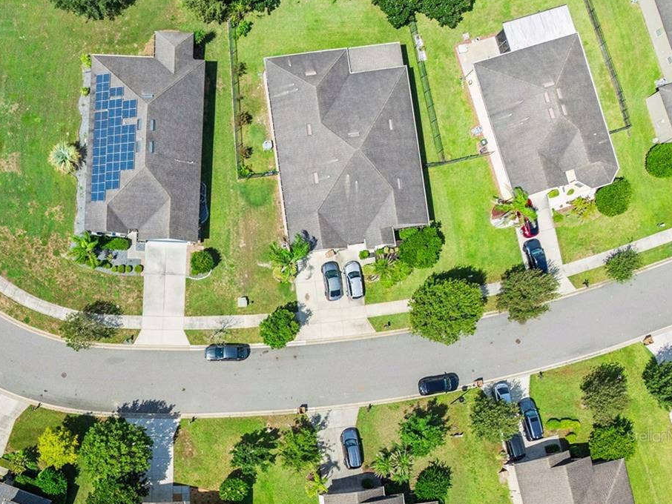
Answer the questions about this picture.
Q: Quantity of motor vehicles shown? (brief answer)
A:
10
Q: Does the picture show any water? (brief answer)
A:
No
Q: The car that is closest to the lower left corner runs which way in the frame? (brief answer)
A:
from left to right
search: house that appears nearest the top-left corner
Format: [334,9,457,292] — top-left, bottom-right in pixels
[83,30,206,243]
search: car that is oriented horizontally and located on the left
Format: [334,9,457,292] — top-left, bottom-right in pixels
[205,343,248,363]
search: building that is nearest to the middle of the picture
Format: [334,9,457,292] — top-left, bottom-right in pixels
[263,43,430,251]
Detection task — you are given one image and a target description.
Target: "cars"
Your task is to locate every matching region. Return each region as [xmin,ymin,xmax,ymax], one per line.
[488,375,512,419]
[320,260,343,304]
[503,429,531,465]
[519,239,549,280]
[518,218,539,242]
[341,258,365,302]
[415,372,459,395]
[205,343,248,363]
[518,397,546,443]
[338,426,363,470]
